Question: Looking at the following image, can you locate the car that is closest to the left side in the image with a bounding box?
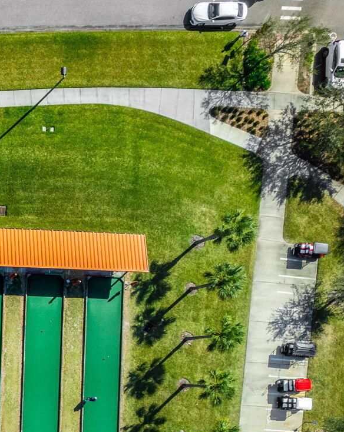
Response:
[191,1,245,28]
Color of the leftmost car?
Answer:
white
